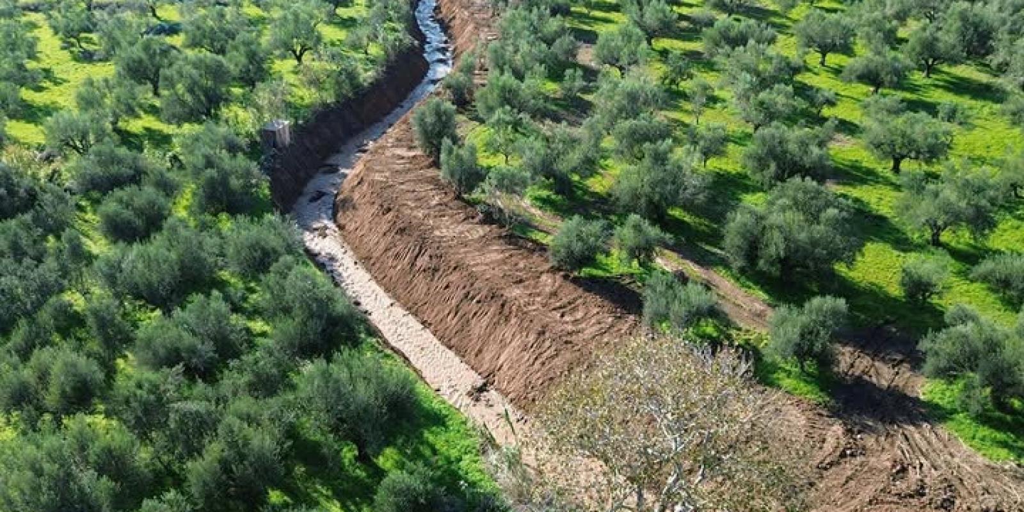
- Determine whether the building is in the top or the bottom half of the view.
top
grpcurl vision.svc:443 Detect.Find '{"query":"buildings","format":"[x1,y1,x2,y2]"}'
[263,116,290,151]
